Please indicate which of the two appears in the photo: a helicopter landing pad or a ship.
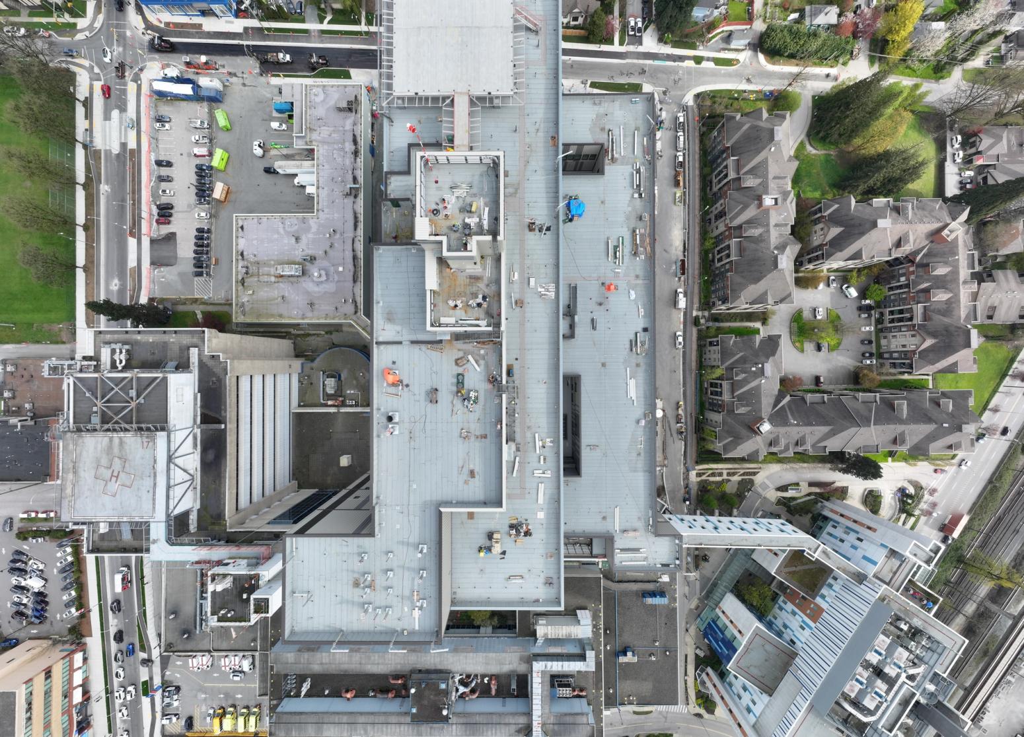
helicopter landing pad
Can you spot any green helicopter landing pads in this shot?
No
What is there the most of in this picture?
buildings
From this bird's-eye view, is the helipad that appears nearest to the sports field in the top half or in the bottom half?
bottom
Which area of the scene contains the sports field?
top left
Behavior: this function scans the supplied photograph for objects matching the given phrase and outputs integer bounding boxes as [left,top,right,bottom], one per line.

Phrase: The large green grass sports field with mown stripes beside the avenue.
[0,68,75,326]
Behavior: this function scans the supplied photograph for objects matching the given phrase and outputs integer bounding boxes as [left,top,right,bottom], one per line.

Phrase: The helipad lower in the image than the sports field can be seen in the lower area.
[52,424,274,562]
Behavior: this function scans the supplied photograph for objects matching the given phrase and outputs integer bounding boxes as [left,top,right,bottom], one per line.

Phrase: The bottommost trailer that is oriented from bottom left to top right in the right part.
[935,503,972,546]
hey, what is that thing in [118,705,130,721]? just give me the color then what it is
white vehicle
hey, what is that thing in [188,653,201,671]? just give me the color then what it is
white vehicle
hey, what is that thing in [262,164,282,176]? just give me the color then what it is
black vehicle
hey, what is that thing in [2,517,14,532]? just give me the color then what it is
gray vehicle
